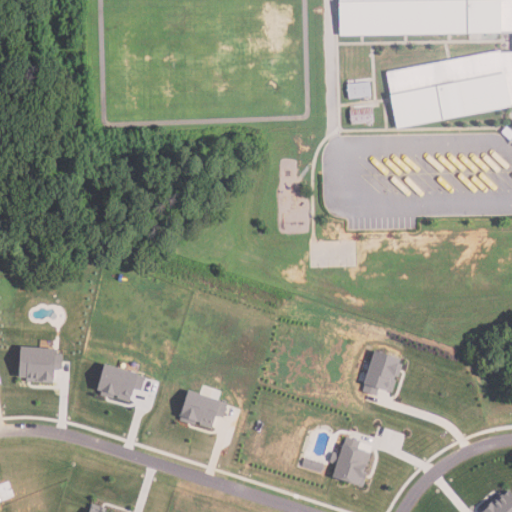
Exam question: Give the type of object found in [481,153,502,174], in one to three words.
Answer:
bus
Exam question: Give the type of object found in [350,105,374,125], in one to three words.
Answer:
shed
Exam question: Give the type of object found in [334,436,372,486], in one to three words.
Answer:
house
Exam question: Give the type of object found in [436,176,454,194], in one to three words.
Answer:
vehicle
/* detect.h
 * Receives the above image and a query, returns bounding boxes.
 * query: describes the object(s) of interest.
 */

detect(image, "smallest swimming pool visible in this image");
[29,304,67,328]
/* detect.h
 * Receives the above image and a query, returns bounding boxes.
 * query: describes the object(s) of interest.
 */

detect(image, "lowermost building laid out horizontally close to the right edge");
[386,50,512,128]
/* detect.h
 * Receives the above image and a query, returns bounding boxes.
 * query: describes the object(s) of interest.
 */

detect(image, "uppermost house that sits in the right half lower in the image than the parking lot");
[364,350,401,394]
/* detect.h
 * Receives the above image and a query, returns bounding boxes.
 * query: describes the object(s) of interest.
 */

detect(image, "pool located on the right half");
[297,425,336,472]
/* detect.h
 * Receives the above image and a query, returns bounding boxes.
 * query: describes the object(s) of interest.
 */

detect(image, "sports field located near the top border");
[106,0,302,116]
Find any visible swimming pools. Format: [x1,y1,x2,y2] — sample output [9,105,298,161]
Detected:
[29,304,67,328]
[297,425,336,472]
